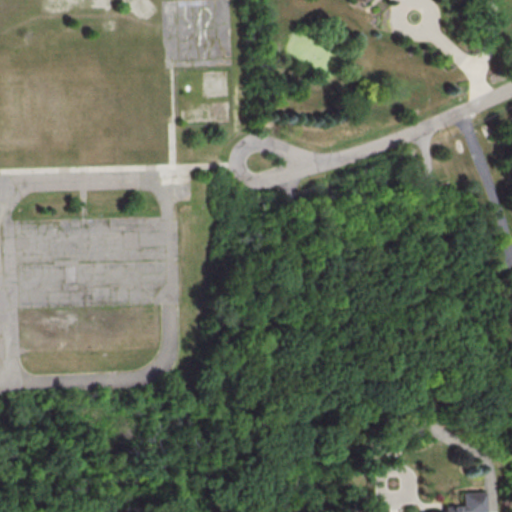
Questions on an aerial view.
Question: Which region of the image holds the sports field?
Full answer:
The sports field is located in the top left region of the scene.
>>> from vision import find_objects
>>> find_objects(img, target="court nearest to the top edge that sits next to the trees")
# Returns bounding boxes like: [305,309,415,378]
[162,0,231,68]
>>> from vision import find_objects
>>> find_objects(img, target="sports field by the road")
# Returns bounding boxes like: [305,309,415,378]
[0,19,167,167]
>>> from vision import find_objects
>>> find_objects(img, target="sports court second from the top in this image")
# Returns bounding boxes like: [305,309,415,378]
[203,70,228,98]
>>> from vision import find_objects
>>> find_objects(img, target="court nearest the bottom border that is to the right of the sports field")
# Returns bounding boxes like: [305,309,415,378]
[182,102,230,123]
